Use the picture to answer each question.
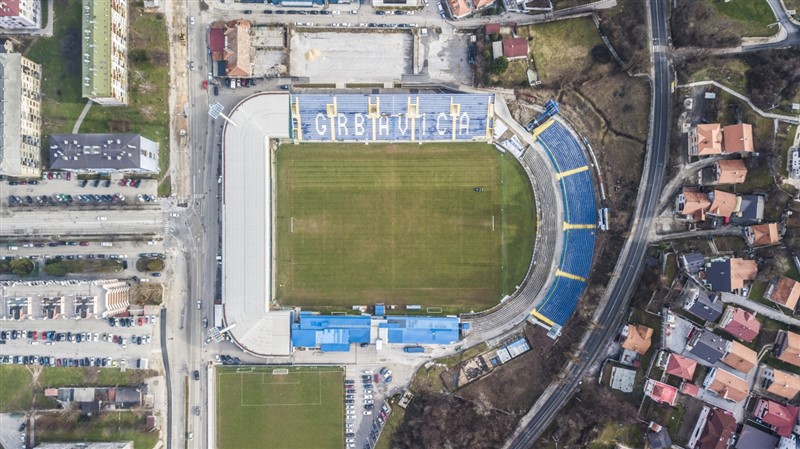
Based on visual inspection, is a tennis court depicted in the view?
No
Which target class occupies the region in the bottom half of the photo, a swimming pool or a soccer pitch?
soccer pitch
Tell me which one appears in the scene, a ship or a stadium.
stadium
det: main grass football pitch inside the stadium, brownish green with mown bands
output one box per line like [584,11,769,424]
[274,138,538,314]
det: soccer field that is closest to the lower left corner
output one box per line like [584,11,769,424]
[217,366,345,449]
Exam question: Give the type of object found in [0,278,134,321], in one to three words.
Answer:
building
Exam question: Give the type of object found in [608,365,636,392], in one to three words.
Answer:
house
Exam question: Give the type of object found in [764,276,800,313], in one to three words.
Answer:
house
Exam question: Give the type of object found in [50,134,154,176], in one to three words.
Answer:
building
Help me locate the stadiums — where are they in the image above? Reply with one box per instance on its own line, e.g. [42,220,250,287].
[220,75,597,358]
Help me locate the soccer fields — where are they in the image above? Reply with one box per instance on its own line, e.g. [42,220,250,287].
[274,138,538,314]
[217,366,345,449]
